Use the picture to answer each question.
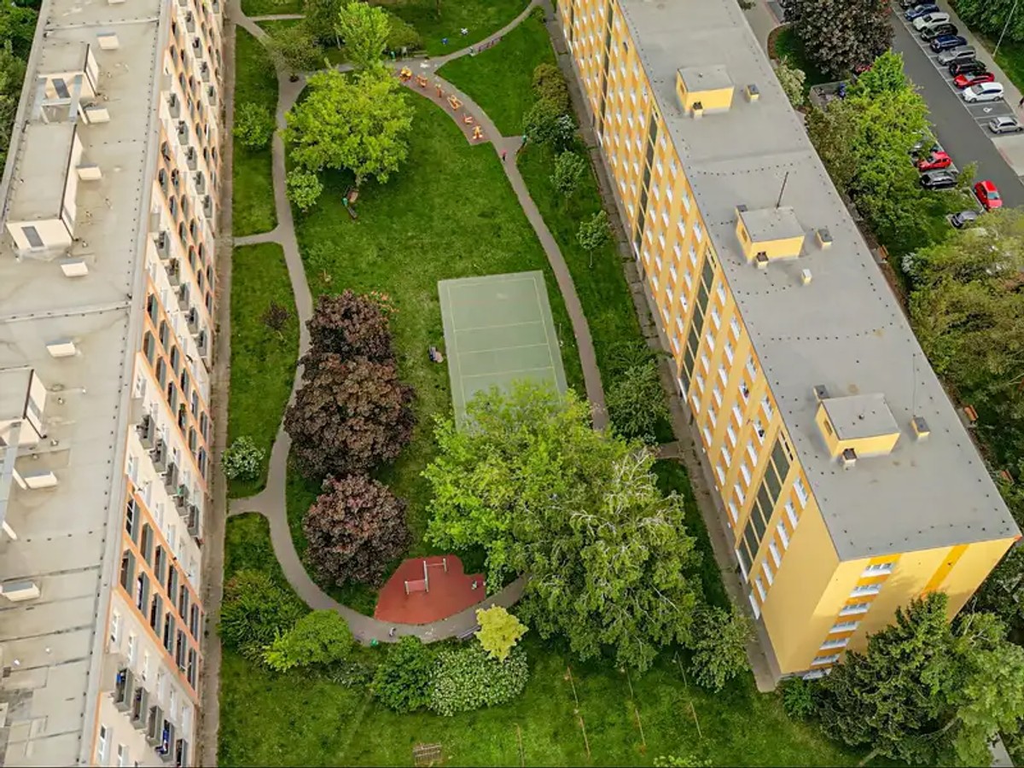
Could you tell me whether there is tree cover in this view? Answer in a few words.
Yes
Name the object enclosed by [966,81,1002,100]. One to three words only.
car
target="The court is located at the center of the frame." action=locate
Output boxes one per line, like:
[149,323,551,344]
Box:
[438,271,571,422]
